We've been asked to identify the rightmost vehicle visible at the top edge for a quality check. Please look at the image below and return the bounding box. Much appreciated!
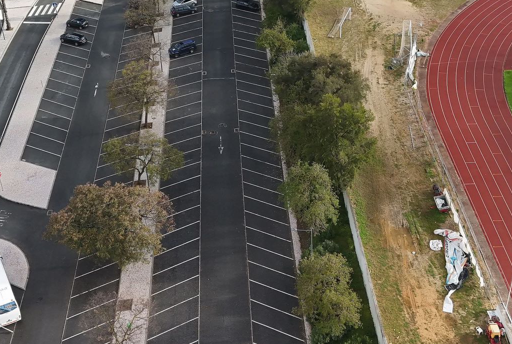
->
[231,0,261,12]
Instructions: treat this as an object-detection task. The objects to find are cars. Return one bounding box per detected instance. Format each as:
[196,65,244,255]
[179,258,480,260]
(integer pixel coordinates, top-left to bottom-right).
[167,4,199,20]
[231,0,261,12]
[57,32,89,48]
[170,0,198,7]
[165,36,199,58]
[63,17,91,32]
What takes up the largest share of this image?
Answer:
paved ground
